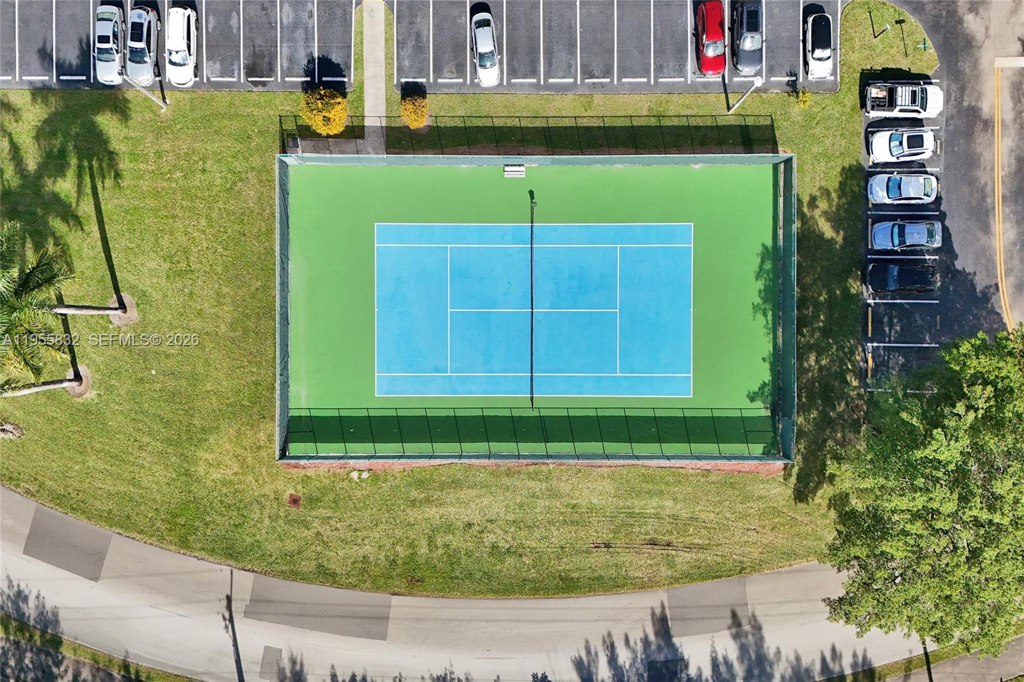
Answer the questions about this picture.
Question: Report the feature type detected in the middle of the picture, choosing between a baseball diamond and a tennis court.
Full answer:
The one visible in the middle of the picture is a tennis court.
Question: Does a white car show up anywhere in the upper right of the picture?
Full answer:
Yes, the scene does show a white car in the upper right of the picture.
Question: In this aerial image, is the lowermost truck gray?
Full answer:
No, the color of the lowermost truck is black.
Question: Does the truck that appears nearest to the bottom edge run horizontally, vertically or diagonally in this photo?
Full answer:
The truck that appears nearest to the bottom edge is oriented horizontally.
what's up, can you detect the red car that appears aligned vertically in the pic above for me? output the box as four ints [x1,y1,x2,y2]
[695,0,729,79]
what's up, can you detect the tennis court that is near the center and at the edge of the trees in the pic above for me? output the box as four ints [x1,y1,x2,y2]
[290,165,781,454]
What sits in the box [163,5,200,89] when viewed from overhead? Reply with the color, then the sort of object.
white car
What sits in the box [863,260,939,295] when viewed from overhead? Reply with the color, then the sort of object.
black truck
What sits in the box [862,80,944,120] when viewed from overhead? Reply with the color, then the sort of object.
white truck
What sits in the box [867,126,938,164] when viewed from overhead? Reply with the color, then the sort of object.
white car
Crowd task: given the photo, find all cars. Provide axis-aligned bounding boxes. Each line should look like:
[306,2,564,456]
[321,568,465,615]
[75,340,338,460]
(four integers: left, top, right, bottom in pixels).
[91,6,128,87]
[124,5,161,87]
[867,126,938,164]
[732,0,767,77]
[865,170,938,206]
[471,12,503,89]
[869,218,943,252]
[163,5,200,89]
[802,11,837,81]
[695,0,729,79]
